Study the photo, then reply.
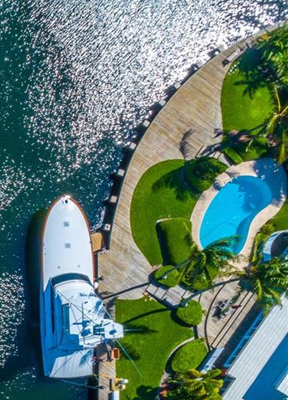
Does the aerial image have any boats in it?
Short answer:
Yes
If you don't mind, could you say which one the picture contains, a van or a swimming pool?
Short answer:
swimming pool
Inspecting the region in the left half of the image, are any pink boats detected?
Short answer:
No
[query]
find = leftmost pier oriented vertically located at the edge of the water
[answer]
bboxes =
[95,299,114,400]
